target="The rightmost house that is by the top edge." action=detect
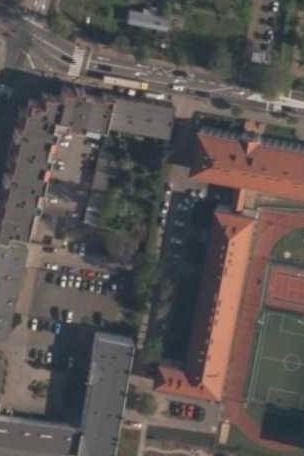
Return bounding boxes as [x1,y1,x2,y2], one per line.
[128,7,170,31]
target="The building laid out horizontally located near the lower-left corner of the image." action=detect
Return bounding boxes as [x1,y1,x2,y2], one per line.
[0,414,78,454]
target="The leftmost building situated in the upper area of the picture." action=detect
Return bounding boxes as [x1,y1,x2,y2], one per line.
[0,95,62,241]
